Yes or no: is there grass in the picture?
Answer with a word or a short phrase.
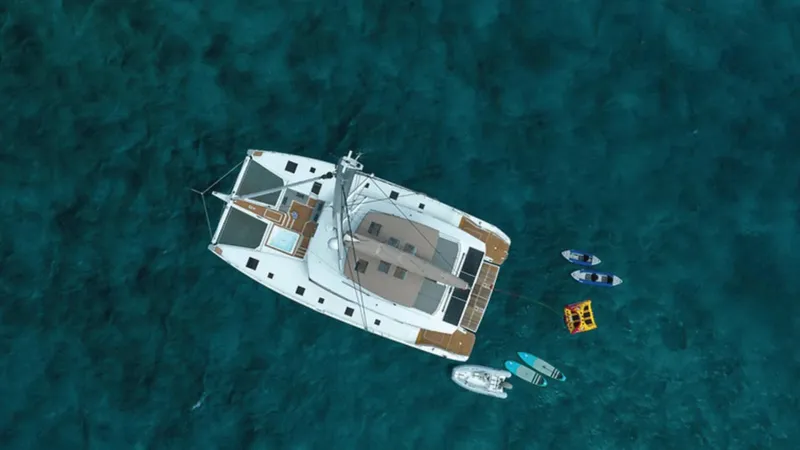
No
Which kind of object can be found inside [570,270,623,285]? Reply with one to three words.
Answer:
boat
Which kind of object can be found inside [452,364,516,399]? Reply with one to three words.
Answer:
boat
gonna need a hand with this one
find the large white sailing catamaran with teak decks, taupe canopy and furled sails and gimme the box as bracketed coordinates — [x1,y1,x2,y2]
[206,148,510,359]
